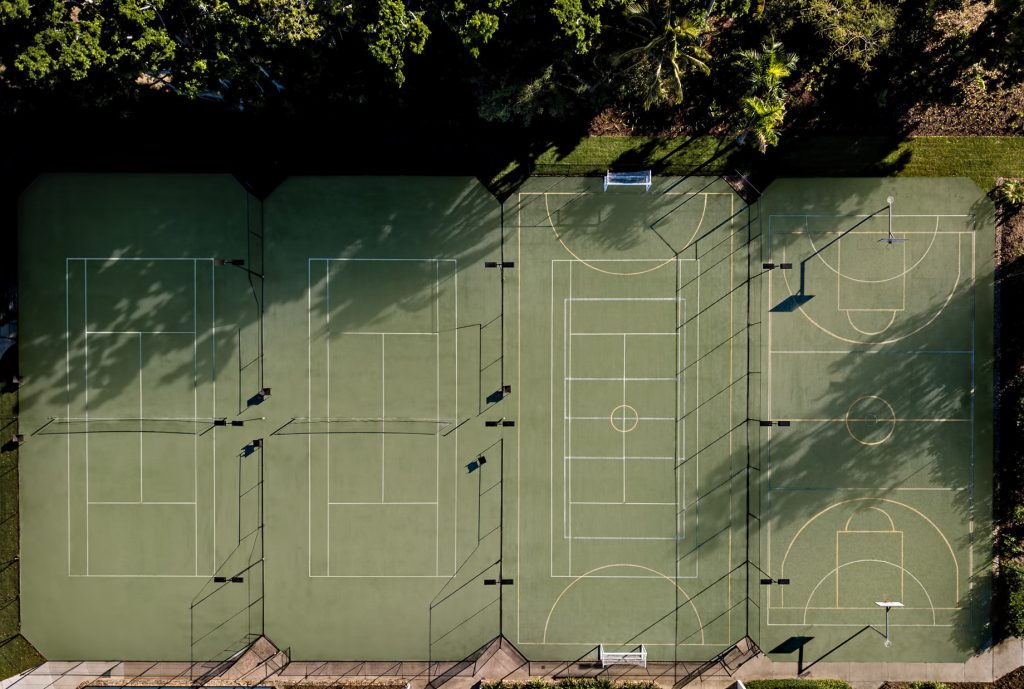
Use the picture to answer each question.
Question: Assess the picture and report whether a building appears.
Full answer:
No, there isn't any building down there.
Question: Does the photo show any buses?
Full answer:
No, no bus can be seen from above.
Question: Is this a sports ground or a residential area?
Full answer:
It's a sports ground.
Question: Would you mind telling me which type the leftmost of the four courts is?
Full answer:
It turns out the leftmost of the four courts is a tennis court.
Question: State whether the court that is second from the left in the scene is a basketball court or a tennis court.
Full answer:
In the photo, the court that is second from the left shows up as a tennis court.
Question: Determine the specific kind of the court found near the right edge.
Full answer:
From above, the court found near the right edge can be identified as a basketball court.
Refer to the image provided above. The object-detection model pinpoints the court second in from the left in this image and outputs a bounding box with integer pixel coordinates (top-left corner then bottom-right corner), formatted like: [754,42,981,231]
[263,177,502,660]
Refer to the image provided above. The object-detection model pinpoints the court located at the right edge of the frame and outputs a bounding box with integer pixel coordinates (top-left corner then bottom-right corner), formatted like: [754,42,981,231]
[749,178,997,662]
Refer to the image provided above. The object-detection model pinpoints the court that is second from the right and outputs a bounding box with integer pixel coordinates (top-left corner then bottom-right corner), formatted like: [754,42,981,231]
[502,177,748,659]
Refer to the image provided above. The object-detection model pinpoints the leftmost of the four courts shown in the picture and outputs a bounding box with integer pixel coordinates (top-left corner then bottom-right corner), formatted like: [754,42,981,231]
[19,174,263,660]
